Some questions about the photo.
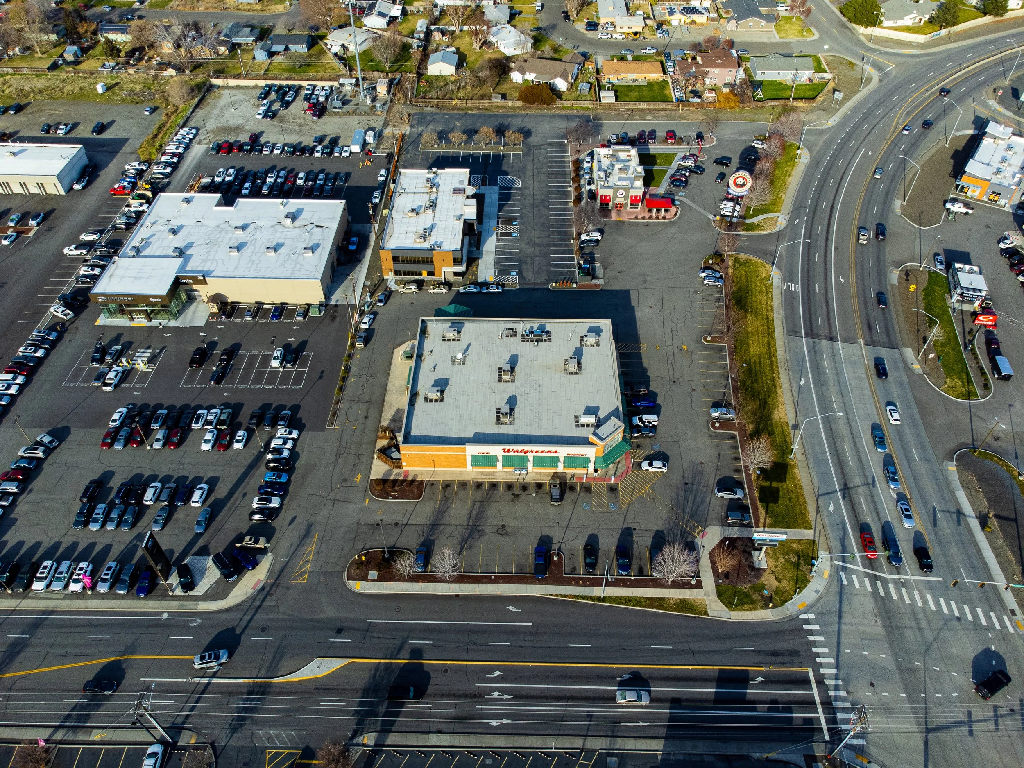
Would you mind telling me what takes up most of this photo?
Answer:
paved ground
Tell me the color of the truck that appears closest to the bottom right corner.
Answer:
black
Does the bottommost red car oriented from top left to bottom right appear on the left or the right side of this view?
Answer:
right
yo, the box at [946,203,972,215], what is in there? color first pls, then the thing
white vehicle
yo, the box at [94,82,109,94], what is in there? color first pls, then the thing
white vehicle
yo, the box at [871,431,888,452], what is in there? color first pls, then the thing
blue car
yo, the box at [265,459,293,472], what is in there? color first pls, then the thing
black vehicle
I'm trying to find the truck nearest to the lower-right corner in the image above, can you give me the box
[973,670,1011,703]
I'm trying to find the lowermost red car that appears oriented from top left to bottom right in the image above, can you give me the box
[858,533,880,560]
